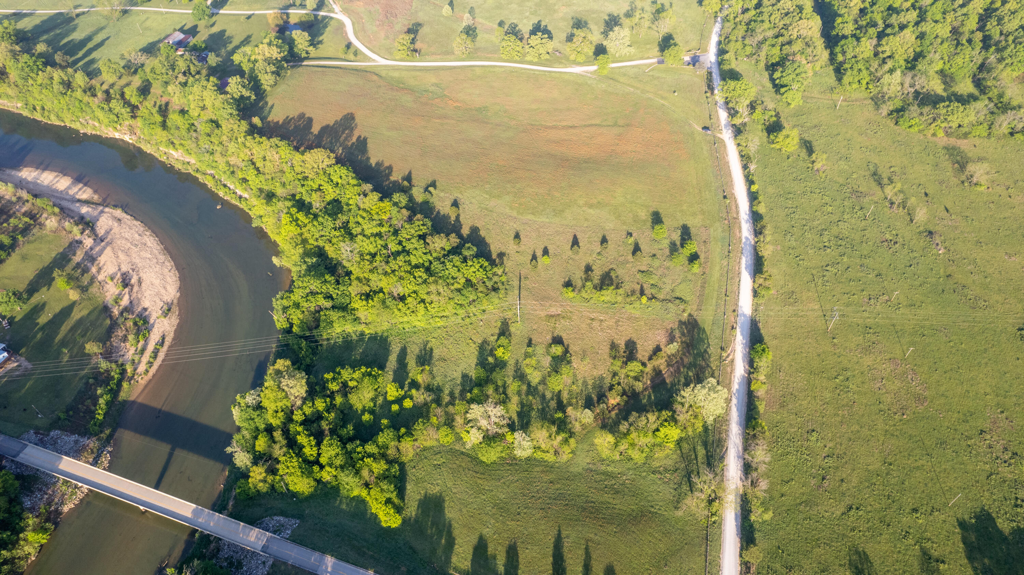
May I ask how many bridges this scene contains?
1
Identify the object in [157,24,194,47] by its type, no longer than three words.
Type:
barn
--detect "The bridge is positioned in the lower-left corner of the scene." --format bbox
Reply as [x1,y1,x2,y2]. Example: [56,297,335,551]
[5,440,279,558]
